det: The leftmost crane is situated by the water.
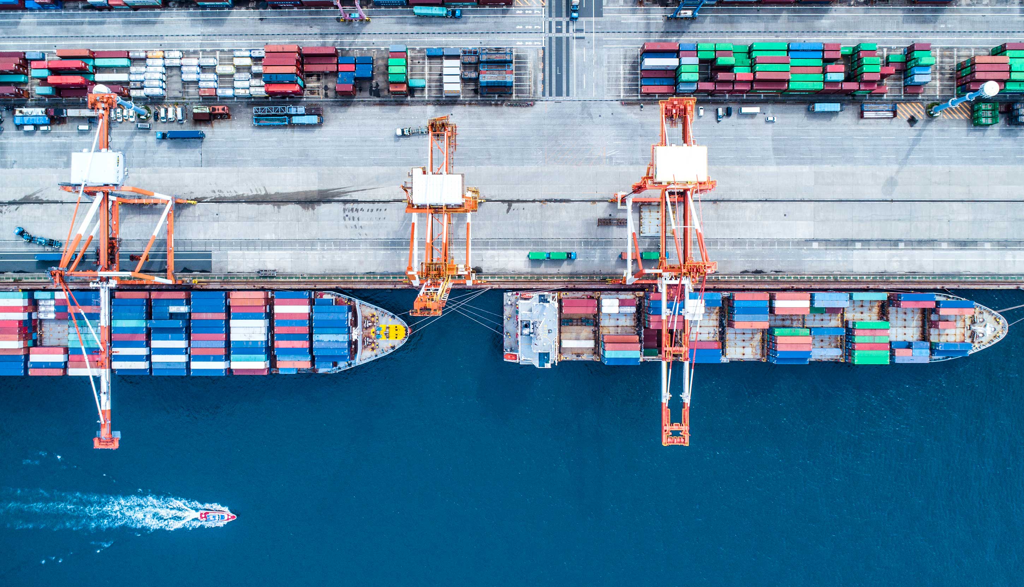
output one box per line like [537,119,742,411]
[43,95,201,448]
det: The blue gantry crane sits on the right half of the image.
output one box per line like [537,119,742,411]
[664,0,711,20]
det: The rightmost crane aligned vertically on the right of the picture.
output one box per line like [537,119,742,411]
[607,97,718,447]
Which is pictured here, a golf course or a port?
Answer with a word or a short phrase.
port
